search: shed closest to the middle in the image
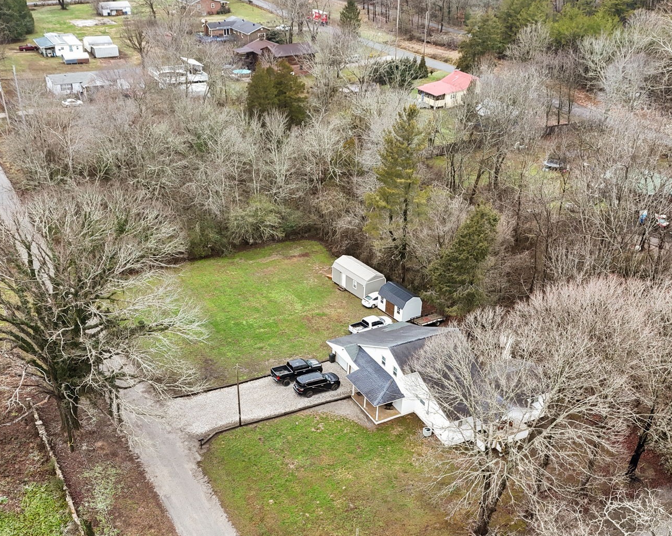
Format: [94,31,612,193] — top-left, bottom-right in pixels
[330,251,386,298]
